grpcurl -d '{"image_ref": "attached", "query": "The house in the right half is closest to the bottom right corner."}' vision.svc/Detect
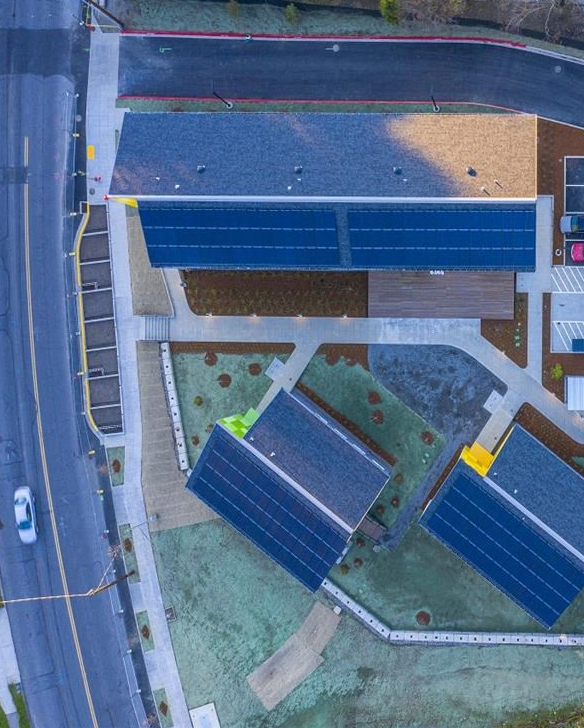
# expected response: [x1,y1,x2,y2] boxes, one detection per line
[418,423,584,629]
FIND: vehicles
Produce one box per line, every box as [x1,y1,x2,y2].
[572,242,584,261]
[561,211,584,234]
[6,491,35,543]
